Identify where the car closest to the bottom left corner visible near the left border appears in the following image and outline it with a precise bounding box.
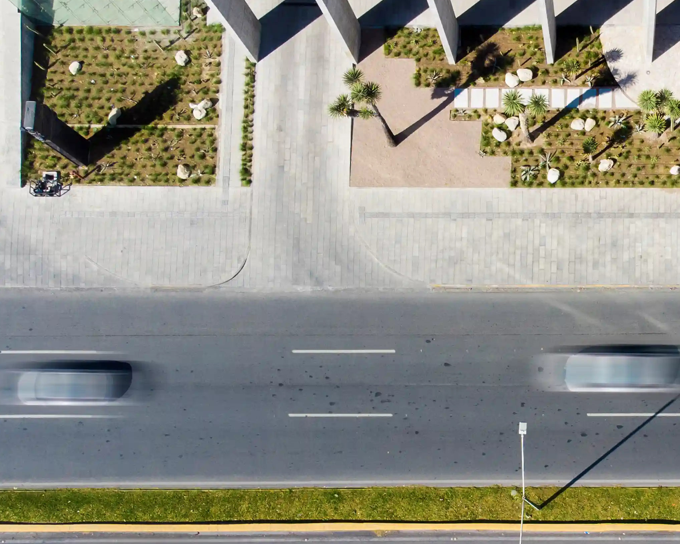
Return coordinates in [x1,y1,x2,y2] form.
[18,366,116,411]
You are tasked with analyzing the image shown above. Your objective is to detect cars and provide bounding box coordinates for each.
[18,366,116,411]
[564,351,660,396]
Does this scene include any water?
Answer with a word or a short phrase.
No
